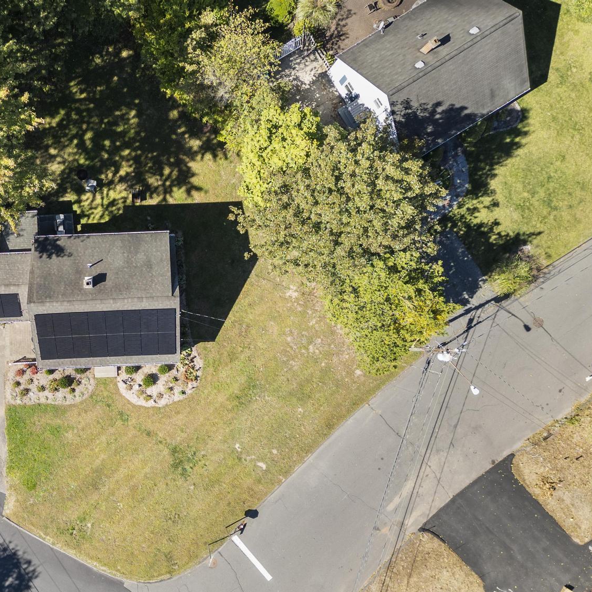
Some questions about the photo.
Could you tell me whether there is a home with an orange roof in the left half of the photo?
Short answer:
No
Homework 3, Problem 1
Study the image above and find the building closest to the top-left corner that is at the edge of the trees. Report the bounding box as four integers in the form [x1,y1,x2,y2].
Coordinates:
[0,211,181,370]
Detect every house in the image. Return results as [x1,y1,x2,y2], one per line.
[328,0,532,170]
[0,211,181,370]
